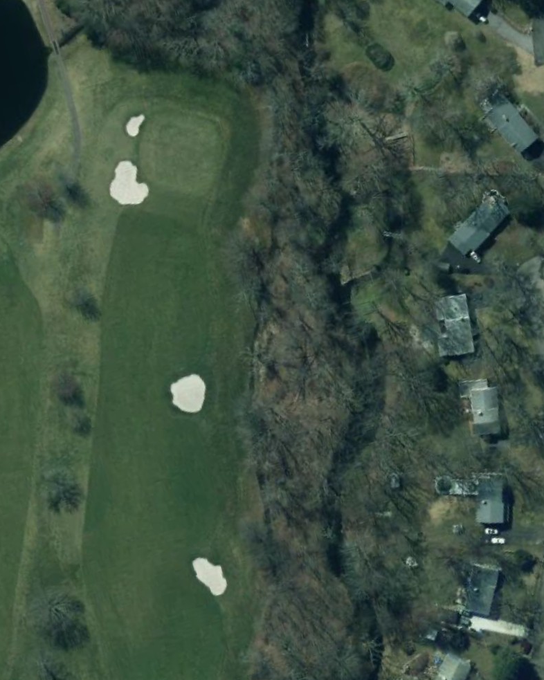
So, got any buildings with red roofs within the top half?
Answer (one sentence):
No, no building with a red roof is visible within the top half.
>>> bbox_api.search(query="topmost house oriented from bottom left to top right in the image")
[450,199,512,256]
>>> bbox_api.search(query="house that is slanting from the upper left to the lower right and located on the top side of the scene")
[488,88,539,152]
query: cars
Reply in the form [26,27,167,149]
[470,251,481,263]
[477,14,488,24]
[491,537,504,544]
[486,529,497,534]
[522,640,532,653]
